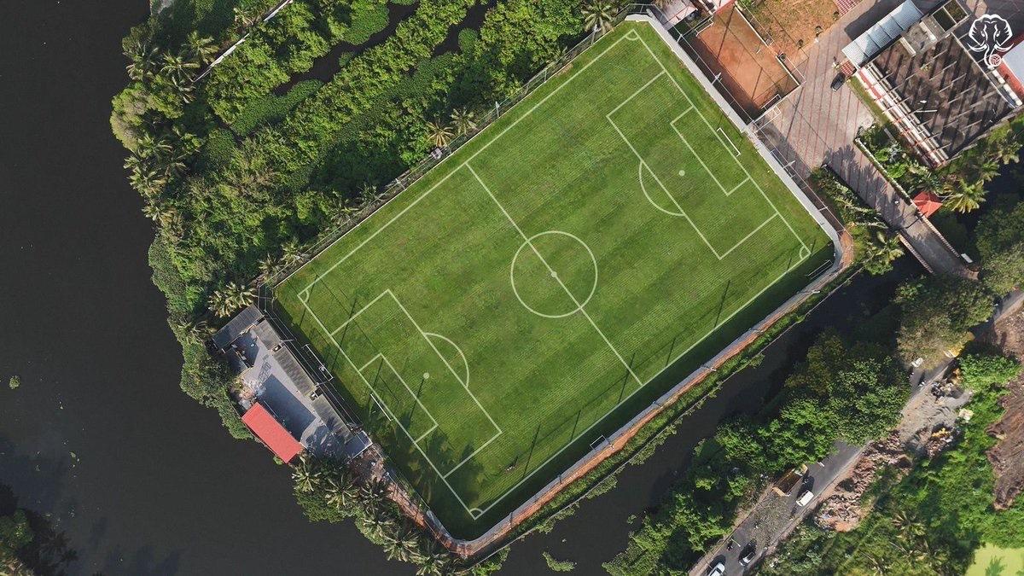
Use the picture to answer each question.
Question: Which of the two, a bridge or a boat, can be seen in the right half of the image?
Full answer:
It is a bridge that can be seen in the right half of the image.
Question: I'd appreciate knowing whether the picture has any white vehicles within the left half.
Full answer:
No, no white vehicle is visible within the left half.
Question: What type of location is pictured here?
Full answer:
This looks like a sports ground.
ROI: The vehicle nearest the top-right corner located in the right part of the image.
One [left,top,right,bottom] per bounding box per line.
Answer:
[832,71,849,90]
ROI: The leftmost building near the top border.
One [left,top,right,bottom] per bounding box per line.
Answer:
[653,0,699,31]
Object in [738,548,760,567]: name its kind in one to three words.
vehicle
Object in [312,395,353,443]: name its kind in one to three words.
building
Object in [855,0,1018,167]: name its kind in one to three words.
building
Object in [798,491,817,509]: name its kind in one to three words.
vehicle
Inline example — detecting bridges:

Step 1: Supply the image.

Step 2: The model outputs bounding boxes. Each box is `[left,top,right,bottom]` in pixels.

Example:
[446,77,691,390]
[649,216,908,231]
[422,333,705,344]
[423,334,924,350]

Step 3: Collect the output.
[898,211,996,300]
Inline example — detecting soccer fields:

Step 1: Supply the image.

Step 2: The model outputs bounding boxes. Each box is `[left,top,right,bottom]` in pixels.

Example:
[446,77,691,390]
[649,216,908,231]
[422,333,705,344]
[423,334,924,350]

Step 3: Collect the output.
[271,16,840,541]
